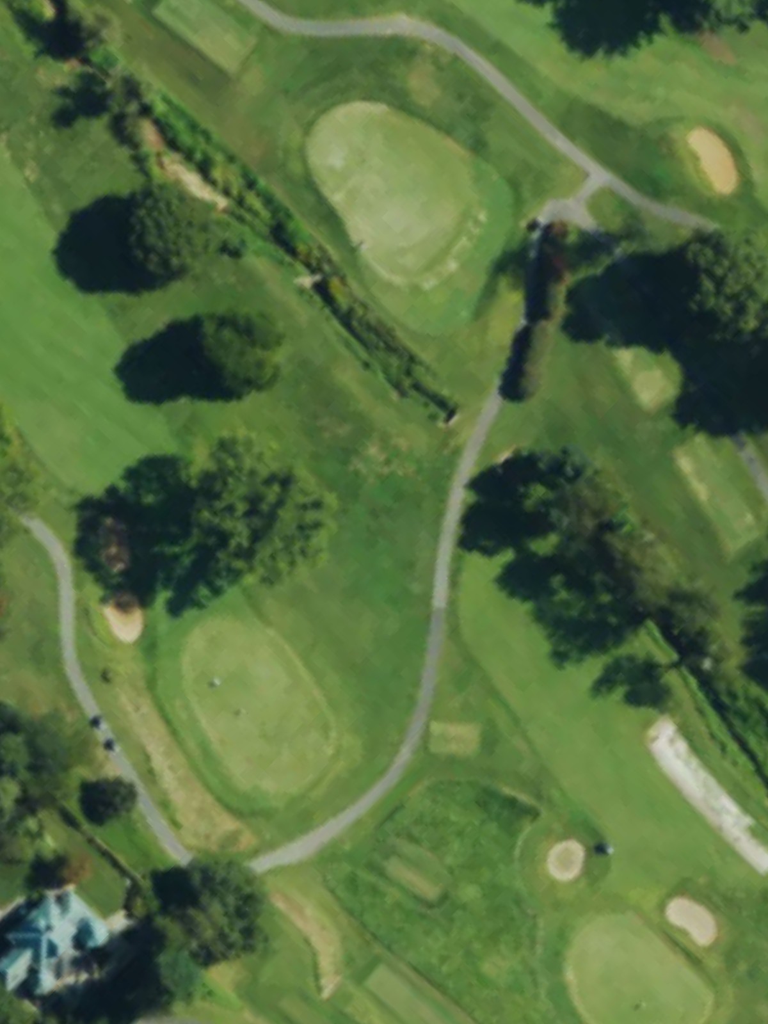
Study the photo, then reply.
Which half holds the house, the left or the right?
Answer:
left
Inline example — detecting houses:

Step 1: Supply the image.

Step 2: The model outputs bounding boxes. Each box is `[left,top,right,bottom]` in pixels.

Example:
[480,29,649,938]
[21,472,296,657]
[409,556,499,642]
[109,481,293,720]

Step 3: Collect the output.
[0,890,107,994]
